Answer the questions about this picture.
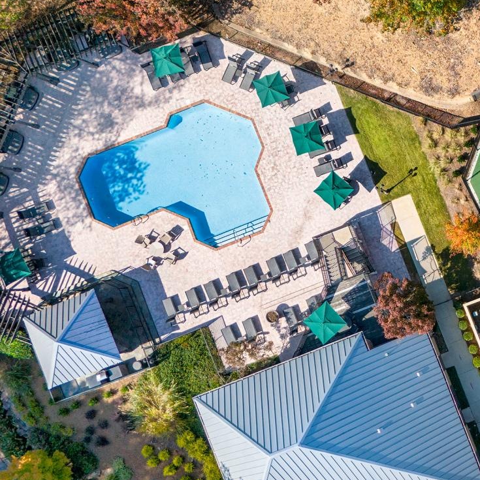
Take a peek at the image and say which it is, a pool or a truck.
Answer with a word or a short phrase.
pool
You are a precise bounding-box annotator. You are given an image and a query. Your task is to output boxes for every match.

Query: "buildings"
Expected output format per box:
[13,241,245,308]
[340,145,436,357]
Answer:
[192,330,480,480]
[22,288,138,391]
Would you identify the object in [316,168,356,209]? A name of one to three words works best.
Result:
umbrella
